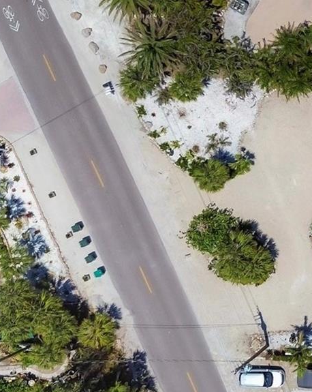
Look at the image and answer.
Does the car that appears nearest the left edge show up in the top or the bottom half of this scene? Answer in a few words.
bottom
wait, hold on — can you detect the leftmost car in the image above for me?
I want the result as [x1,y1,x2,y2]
[240,369,286,391]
